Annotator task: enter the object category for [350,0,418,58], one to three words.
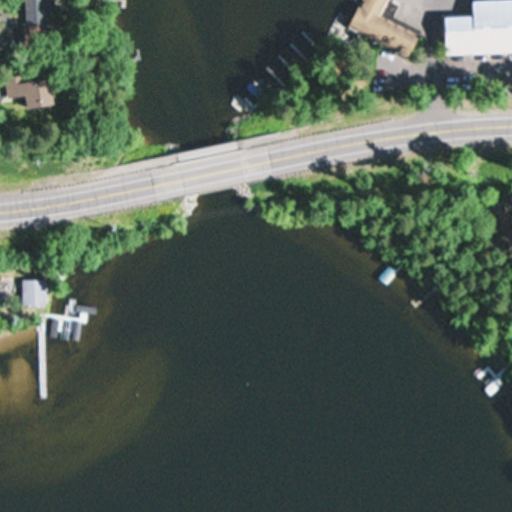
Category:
building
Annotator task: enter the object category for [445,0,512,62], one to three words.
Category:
building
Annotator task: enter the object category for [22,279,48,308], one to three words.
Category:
house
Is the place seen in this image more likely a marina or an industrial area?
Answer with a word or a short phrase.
marina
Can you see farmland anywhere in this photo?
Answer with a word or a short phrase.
No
